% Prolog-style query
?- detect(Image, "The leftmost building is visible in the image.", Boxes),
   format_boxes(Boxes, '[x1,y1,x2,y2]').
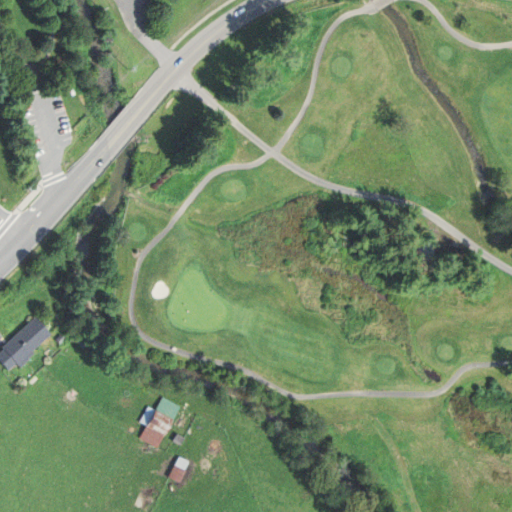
[0,318,50,372]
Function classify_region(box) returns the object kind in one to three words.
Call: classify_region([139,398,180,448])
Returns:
barn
